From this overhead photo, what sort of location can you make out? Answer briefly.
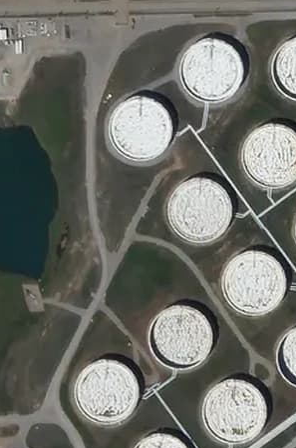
industrial area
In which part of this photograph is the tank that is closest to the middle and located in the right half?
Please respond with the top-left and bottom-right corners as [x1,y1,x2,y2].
[167,177,234,245]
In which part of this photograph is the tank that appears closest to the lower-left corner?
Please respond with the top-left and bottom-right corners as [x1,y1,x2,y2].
[73,358,140,426]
